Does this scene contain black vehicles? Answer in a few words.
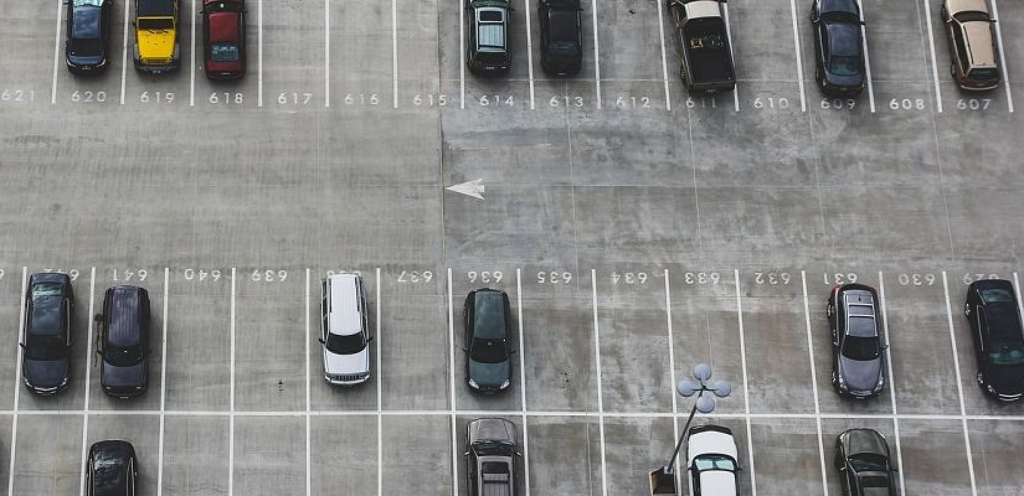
Yes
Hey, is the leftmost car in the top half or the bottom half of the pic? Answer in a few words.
bottom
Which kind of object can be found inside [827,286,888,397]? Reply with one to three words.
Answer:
car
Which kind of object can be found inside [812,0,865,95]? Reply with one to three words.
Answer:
car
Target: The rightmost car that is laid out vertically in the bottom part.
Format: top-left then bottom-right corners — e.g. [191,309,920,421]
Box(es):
[967,281,1024,400]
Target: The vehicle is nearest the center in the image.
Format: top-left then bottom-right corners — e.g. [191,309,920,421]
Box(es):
[464,288,517,393]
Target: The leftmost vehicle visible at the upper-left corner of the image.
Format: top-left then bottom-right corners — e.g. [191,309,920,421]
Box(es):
[64,0,113,71]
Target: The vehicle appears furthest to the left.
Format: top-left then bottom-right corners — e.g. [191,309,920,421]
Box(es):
[18,274,73,394]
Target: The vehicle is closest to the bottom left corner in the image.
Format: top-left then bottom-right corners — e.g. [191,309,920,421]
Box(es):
[87,442,138,496]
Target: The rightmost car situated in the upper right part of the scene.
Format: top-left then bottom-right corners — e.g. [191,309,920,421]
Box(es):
[945,0,1000,89]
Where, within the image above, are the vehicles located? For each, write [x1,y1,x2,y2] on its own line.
[836,429,895,496]
[96,285,151,397]
[465,419,521,496]
[671,0,736,95]
[827,286,888,397]
[812,0,865,95]
[967,281,1024,400]
[535,0,585,75]
[18,274,73,394]
[133,0,182,72]
[465,0,514,74]
[64,0,113,71]
[203,0,251,78]
[945,0,1000,89]
[318,273,373,385]
[464,288,517,393]
[687,425,743,496]
[87,442,138,496]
